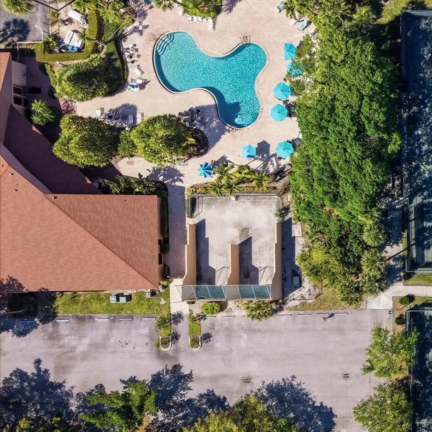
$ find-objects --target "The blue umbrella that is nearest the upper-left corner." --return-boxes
[198,162,215,177]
